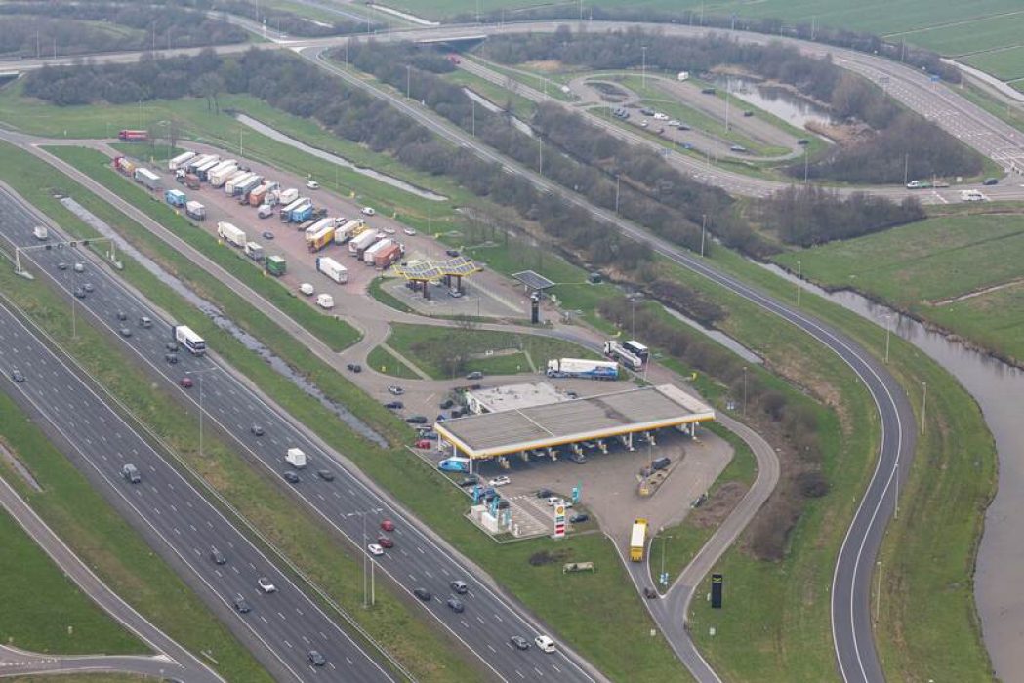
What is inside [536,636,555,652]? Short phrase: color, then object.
white car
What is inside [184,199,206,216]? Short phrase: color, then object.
white vehicle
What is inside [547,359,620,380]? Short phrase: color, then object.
white truck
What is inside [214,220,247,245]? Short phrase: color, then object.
white truck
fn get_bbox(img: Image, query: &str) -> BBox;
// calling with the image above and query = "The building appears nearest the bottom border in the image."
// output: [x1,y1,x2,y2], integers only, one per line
[465,380,586,416]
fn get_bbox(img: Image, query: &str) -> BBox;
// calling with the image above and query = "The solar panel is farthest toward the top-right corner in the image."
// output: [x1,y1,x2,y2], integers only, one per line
[513,270,553,287]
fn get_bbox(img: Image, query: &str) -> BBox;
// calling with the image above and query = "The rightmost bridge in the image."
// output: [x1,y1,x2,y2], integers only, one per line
[403,20,497,44]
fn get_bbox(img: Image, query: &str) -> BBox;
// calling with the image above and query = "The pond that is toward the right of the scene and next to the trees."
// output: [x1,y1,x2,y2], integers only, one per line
[706,76,837,140]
